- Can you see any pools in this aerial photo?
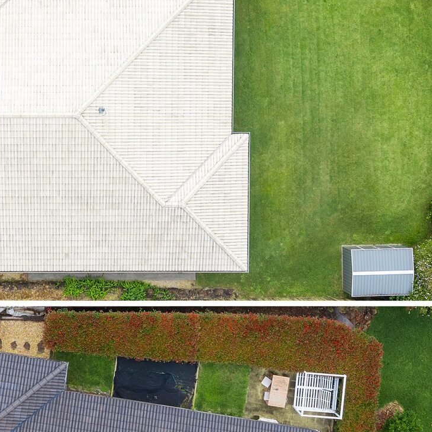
No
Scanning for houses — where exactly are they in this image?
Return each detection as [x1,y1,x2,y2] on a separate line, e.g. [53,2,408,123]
[0,0,251,274]
[0,351,316,432]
